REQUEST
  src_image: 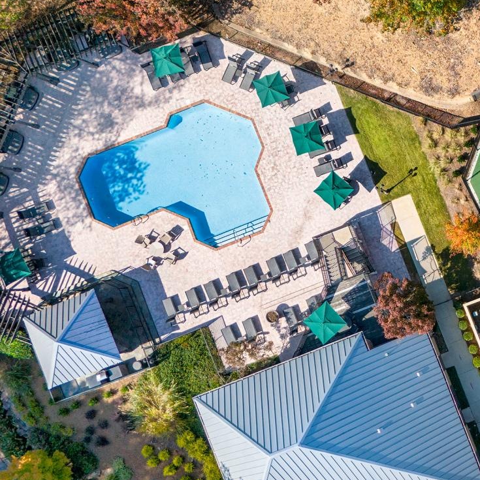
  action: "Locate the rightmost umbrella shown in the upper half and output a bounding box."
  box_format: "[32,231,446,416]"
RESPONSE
[316,168,356,209]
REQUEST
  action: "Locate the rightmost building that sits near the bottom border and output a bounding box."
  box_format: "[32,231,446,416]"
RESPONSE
[192,330,480,480]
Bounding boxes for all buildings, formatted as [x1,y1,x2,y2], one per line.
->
[22,288,138,391]
[192,330,480,480]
